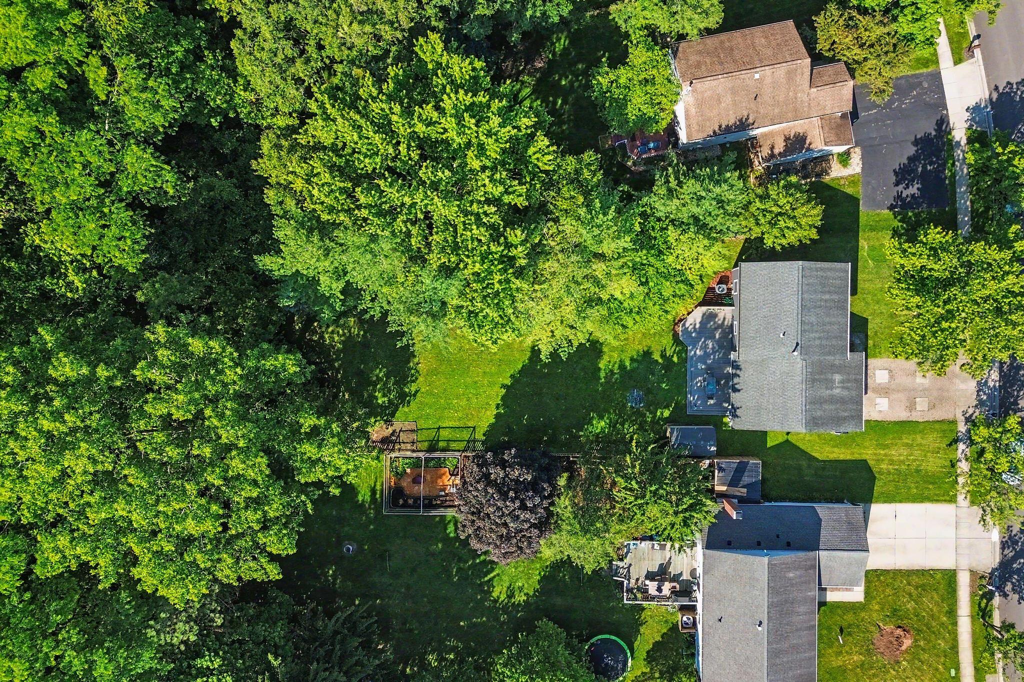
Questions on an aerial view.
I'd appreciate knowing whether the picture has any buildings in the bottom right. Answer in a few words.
Yes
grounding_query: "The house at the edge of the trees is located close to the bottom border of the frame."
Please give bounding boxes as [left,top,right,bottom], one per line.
[696,499,869,682]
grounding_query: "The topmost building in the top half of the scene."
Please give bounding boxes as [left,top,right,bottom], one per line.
[665,19,855,169]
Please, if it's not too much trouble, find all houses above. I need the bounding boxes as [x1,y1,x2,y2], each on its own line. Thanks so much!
[696,499,869,682]
[665,19,855,169]
[728,261,865,433]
